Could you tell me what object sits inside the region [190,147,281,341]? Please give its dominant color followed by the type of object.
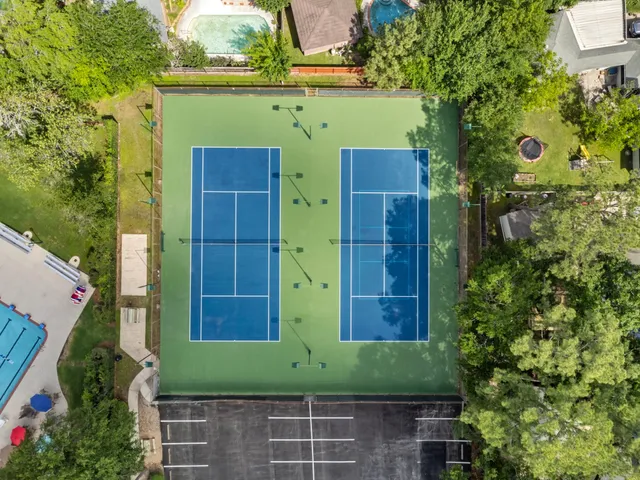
blue tennis court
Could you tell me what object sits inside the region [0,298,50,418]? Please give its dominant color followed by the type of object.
blue swimming pool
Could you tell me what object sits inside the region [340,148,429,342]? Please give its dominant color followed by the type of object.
blue tennis court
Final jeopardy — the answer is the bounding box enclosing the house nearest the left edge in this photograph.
[286,0,360,55]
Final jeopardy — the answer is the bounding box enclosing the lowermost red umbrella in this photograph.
[6,425,32,446]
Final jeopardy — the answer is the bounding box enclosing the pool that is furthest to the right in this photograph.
[368,0,414,34]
